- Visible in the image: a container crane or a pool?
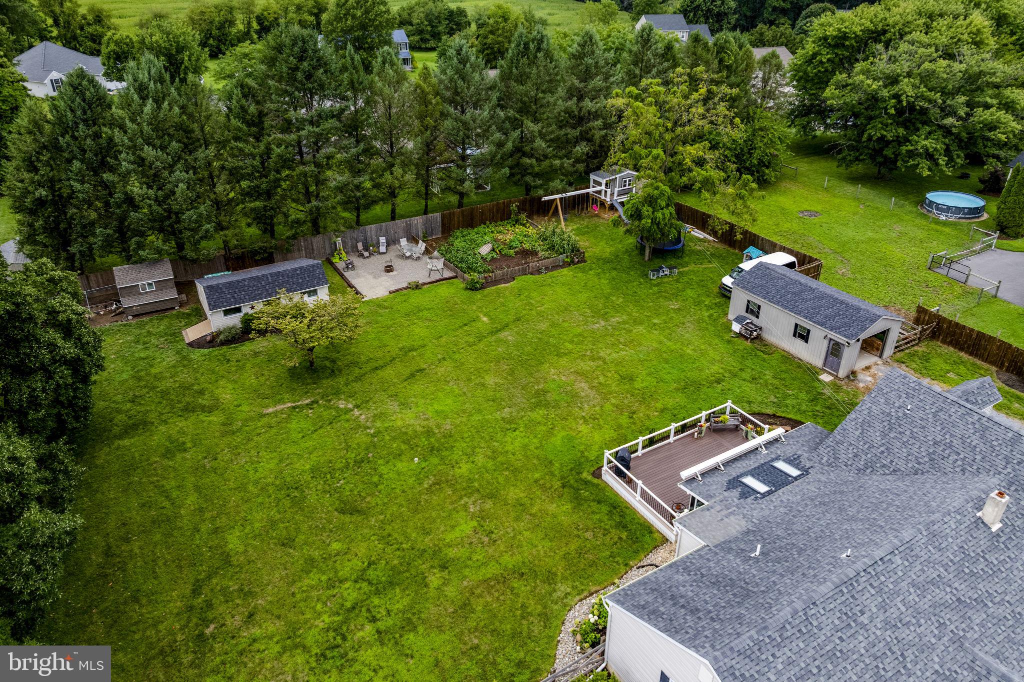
pool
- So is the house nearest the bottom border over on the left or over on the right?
right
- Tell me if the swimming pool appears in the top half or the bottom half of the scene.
top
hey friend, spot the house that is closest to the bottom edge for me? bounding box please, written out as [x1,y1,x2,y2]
[584,367,1024,682]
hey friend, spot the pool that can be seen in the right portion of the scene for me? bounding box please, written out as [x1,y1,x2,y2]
[916,190,989,226]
